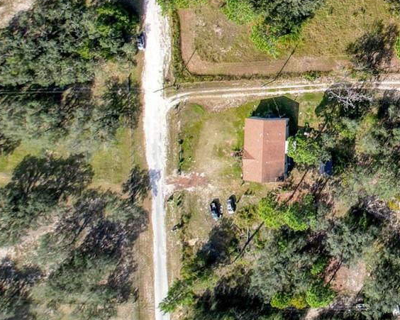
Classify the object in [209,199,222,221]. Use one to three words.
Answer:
vehicle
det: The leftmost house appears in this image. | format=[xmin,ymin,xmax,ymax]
[240,116,291,184]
